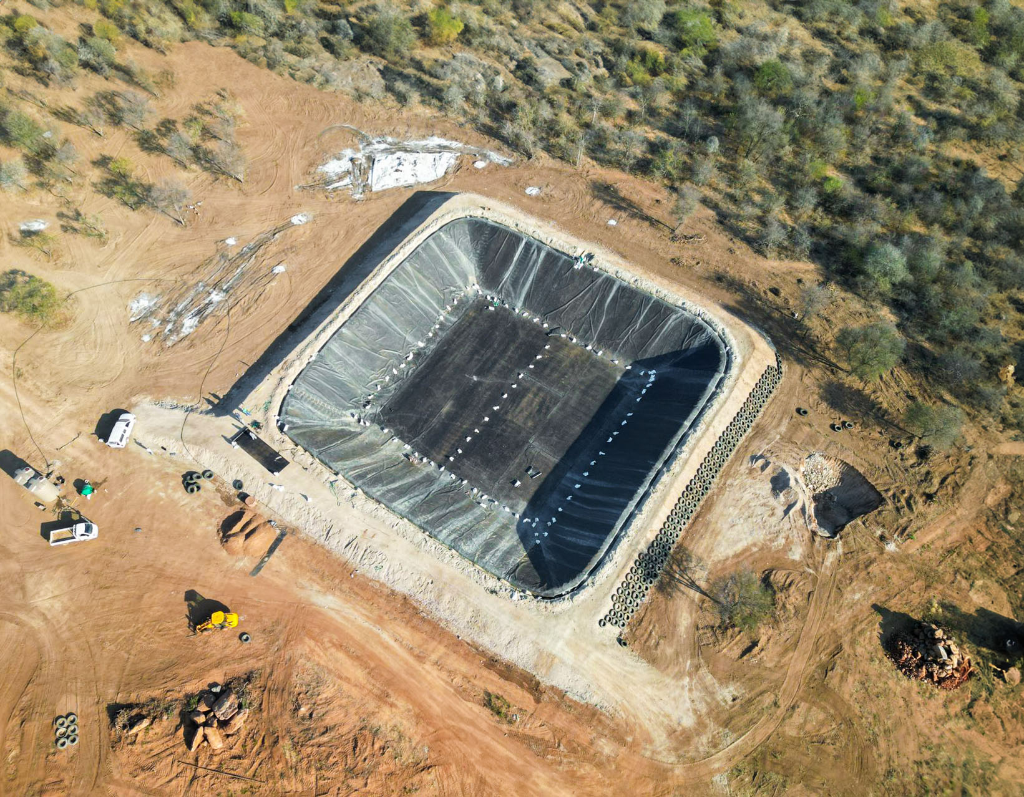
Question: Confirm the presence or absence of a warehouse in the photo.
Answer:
No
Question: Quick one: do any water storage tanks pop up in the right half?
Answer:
No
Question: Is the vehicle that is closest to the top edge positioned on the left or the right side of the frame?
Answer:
left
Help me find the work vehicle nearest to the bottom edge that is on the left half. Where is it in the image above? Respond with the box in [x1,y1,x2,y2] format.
[195,611,241,635]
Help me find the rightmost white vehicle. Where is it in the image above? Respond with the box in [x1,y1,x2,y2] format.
[103,413,137,453]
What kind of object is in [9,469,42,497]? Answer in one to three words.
water tank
